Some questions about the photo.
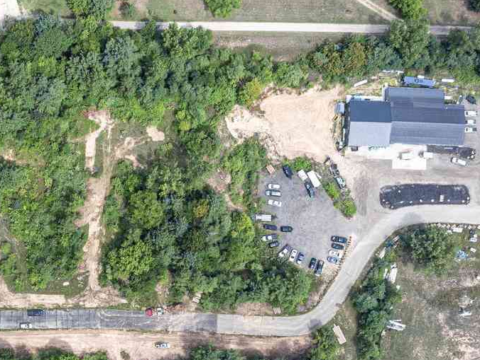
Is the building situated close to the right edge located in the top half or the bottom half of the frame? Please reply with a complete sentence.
Seen from above, the building situated close to the right edge lies in the top half of the view.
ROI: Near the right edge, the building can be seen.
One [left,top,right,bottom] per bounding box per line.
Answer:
[345,87,468,148]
